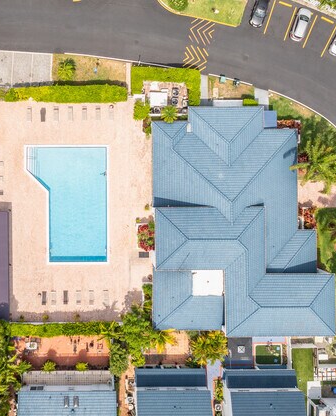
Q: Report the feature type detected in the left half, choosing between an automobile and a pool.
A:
pool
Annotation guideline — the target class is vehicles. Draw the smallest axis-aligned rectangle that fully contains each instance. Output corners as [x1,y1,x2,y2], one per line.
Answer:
[327,33,336,57]
[288,7,312,44]
[250,0,271,27]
